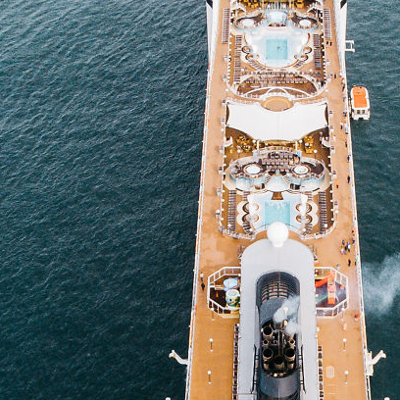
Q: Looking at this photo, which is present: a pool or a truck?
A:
pool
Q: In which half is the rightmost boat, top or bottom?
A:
top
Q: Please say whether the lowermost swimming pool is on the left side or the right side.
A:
right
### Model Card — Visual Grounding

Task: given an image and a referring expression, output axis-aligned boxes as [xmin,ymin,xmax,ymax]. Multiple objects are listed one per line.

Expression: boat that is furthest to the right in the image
[350,89,371,121]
